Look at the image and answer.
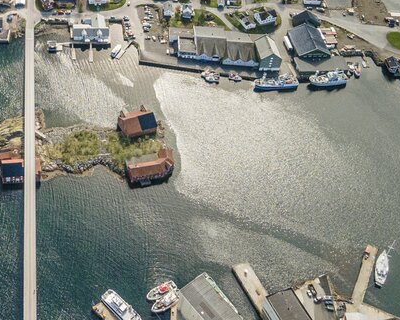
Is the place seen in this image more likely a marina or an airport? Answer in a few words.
marina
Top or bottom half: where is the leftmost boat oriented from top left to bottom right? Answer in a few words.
bottom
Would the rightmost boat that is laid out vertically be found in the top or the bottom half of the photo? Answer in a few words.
bottom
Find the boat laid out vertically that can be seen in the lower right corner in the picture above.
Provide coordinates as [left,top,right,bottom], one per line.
[373,237,400,291]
